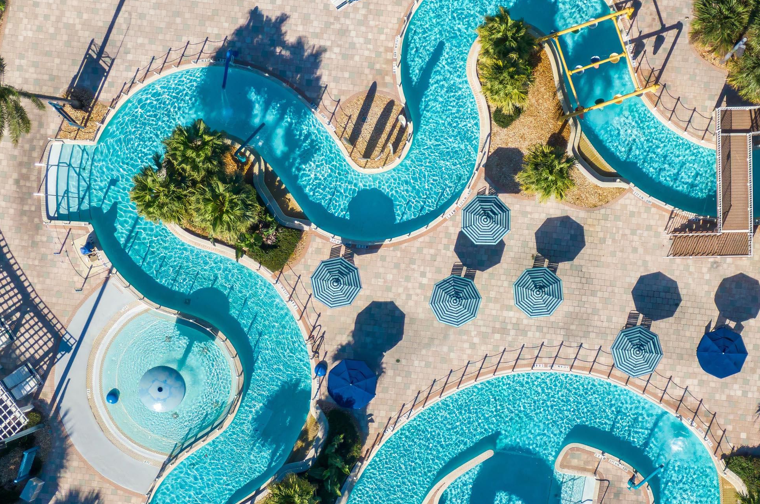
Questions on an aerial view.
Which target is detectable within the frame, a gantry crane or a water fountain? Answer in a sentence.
It is a water fountain that can be seen here.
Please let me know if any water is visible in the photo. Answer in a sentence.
Yes, water can be seen from above here.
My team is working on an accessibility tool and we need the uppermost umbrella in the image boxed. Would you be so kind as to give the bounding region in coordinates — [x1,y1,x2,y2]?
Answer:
[458,193,512,246]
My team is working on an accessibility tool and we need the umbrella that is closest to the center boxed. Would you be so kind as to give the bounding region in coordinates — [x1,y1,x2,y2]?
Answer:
[308,255,361,308]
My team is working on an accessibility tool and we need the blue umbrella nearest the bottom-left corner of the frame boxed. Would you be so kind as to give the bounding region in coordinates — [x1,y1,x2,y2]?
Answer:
[326,358,378,409]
